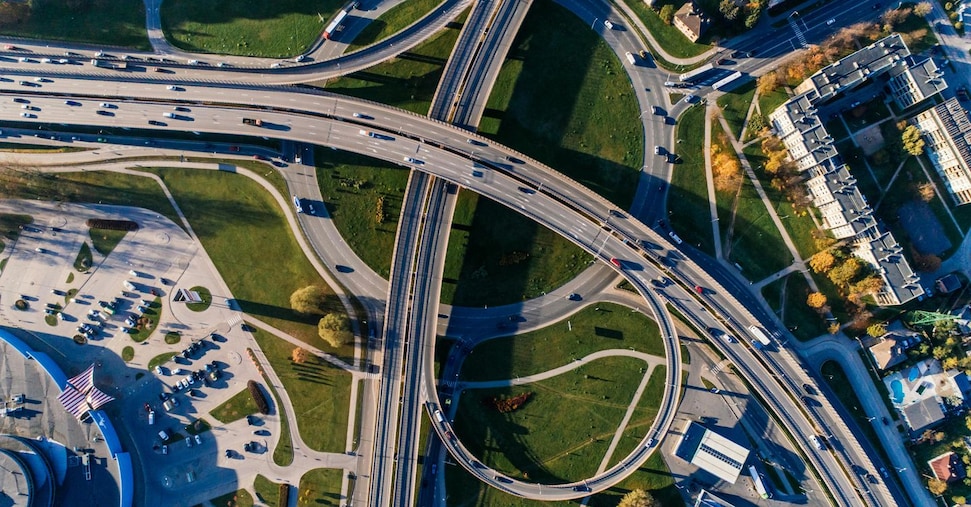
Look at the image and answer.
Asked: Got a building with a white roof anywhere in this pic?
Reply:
Yes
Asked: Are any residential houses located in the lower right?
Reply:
Yes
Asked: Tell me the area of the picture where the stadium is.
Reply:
bottom left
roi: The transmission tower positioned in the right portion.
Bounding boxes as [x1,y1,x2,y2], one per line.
[914,311,965,325]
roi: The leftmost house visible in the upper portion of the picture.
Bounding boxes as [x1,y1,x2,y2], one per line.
[672,0,712,40]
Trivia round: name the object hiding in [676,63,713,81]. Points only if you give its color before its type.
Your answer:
white vehicle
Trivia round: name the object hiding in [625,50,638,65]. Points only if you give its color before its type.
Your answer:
white vehicle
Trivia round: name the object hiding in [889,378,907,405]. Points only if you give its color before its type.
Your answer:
blue swimming pool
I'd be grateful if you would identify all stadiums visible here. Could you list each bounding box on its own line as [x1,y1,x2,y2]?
[0,319,139,507]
